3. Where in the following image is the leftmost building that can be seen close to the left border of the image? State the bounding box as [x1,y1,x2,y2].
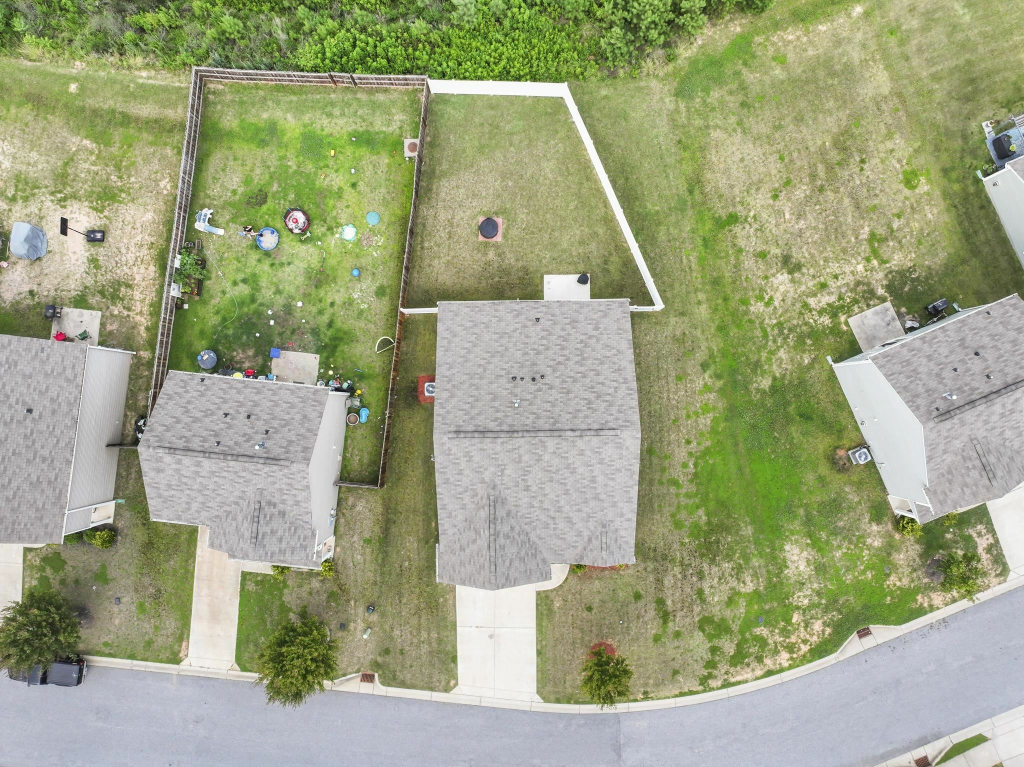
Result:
[0,334,134,548]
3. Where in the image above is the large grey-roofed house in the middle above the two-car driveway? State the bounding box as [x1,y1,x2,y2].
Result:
[433,298,641,589]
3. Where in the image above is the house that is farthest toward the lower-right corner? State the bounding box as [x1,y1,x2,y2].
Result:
[830,296,1024,529]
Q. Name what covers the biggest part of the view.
grass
